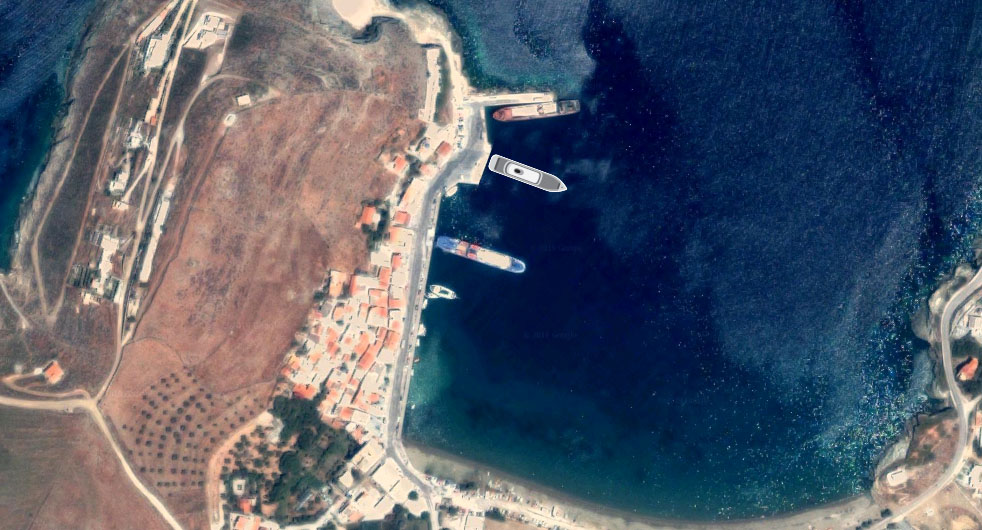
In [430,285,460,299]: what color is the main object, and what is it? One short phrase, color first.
white boat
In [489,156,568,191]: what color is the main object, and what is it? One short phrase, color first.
white ship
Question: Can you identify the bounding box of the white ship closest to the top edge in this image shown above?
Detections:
[489,100,580,123]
